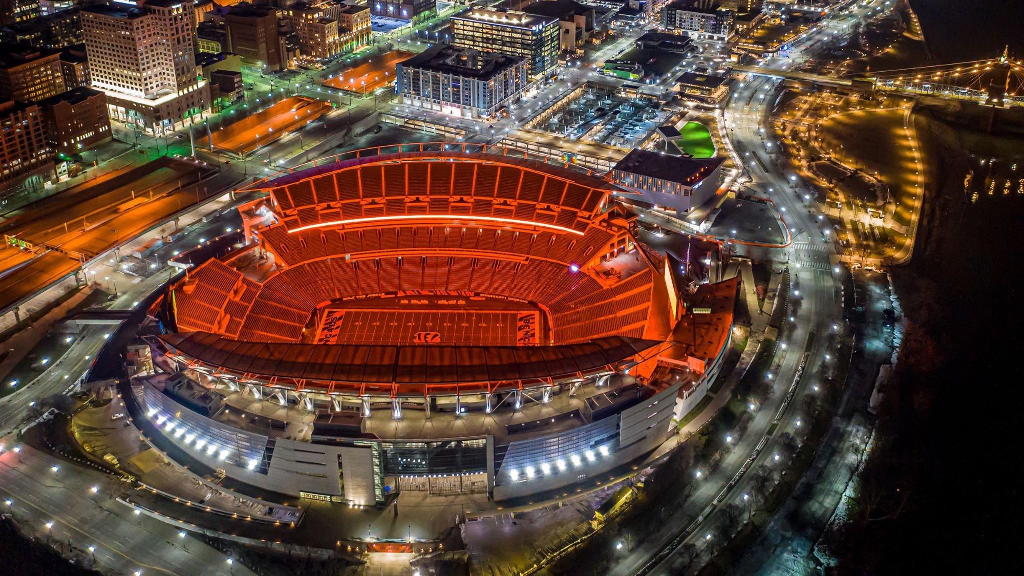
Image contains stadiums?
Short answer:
Yes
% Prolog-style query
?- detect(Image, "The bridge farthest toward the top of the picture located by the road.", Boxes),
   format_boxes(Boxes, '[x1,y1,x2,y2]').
[731,16,1024,113]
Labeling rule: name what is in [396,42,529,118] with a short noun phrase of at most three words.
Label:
building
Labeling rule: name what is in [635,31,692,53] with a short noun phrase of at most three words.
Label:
building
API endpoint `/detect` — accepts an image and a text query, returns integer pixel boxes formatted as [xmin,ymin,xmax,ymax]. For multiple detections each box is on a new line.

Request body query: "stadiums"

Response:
[132,142,740,507]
